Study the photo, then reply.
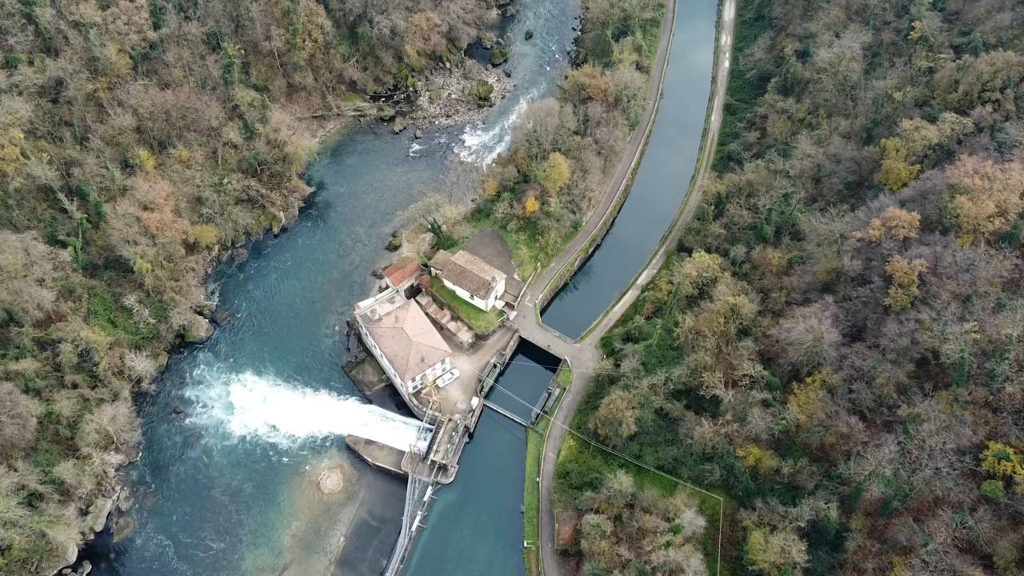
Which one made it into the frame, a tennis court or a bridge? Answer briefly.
bridge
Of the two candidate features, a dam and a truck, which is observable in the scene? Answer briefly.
dam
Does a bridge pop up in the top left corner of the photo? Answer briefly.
No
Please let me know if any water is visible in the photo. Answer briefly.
Yes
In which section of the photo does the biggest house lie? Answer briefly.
center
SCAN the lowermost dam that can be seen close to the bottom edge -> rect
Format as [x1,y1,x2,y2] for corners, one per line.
[382,474,441,576]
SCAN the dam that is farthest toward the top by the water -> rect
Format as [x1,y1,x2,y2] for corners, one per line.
[402,417,476,486]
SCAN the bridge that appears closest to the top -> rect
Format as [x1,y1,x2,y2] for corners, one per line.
[518,319,575,359]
